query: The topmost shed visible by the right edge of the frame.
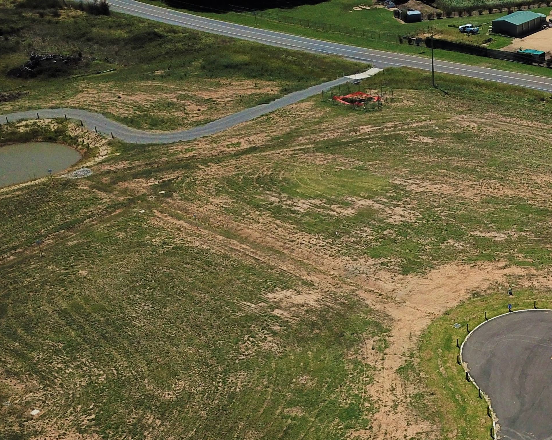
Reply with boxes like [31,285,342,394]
[491,9,542,38]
